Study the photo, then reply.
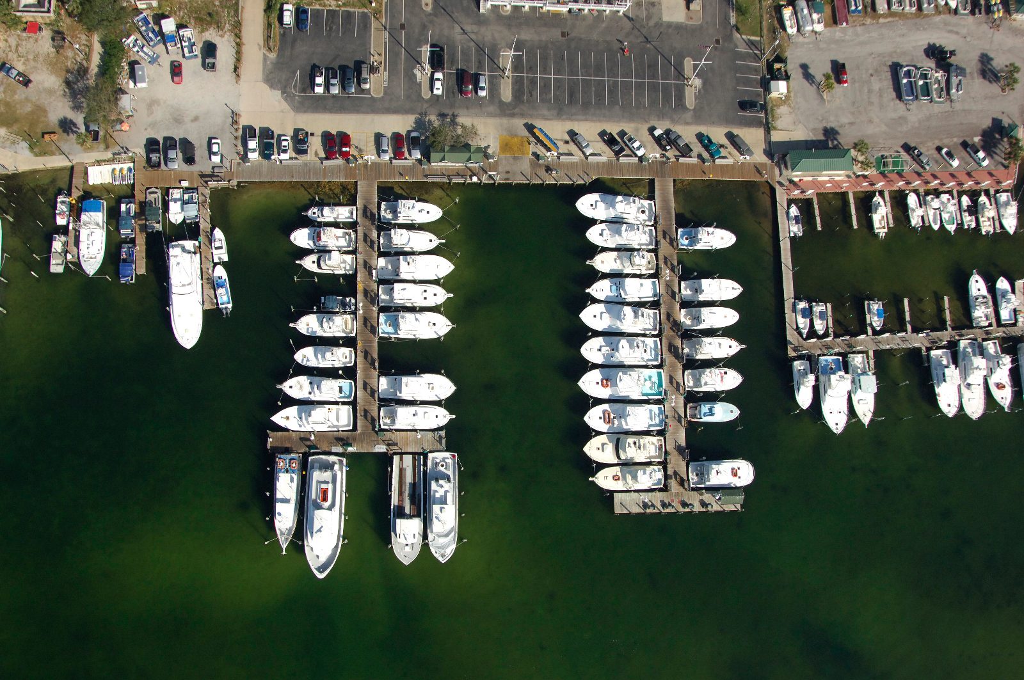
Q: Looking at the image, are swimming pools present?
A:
No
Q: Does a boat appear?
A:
Yes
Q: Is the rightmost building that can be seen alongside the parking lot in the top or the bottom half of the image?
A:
top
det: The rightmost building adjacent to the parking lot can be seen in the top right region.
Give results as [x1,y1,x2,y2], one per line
[789,149,854,181]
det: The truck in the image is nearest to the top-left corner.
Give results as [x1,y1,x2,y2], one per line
[0,62,33,88]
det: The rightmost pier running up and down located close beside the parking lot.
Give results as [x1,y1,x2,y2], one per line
[614,179,740,514]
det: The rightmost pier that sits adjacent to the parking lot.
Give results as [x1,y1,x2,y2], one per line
[775,186,1024,356]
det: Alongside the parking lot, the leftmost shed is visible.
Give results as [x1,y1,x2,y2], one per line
[431,142,484,167]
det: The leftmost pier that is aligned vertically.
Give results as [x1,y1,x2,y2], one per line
[67,162,85,261]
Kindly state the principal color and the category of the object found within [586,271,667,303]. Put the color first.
white boat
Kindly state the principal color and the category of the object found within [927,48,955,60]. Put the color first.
black vehicle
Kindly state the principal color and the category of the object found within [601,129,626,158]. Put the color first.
black truck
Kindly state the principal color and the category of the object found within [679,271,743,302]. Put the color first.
white boat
